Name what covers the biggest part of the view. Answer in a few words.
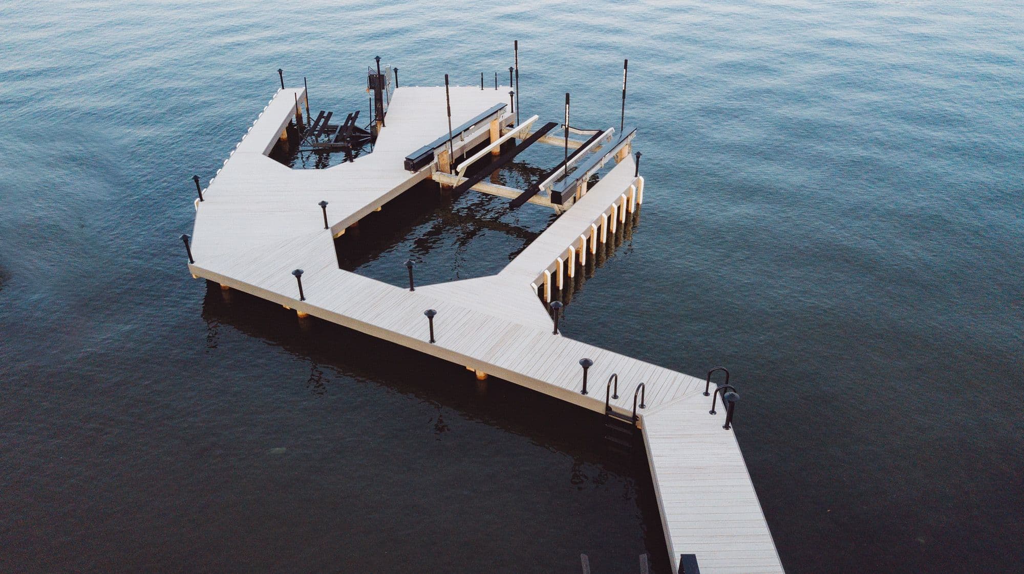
water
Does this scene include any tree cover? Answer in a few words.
No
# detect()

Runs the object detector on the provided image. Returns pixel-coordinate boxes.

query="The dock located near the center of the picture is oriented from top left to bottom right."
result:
[188,86,786,574]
